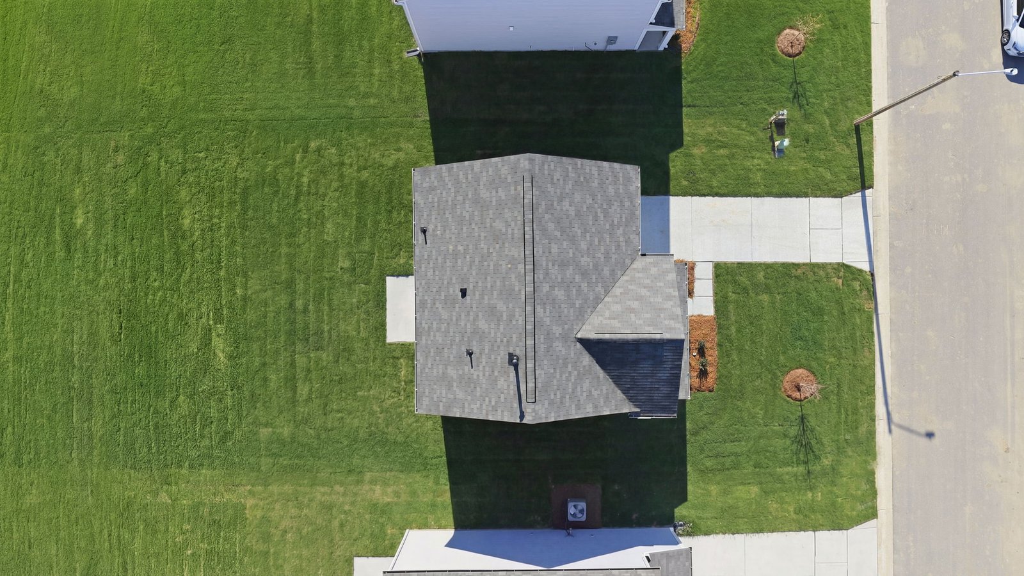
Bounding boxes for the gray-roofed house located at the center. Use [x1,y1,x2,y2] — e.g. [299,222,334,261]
[411,155,693,424]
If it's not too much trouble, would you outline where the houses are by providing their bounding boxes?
[393,0,688,56]
[411,155,693,424]
[382,529,693,576]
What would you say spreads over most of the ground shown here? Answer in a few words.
grass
